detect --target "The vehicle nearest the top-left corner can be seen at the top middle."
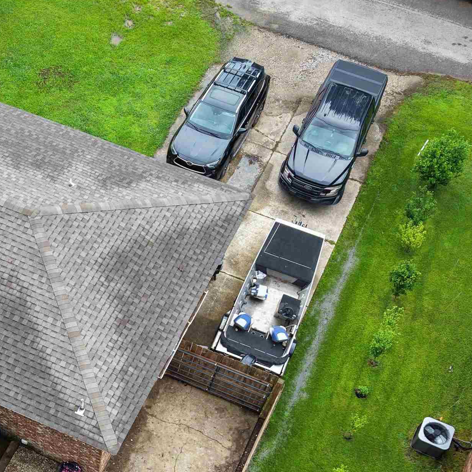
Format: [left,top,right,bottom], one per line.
[168,55,272,182]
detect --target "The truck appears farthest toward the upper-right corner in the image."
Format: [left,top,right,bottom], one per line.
[277,56,393,209]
